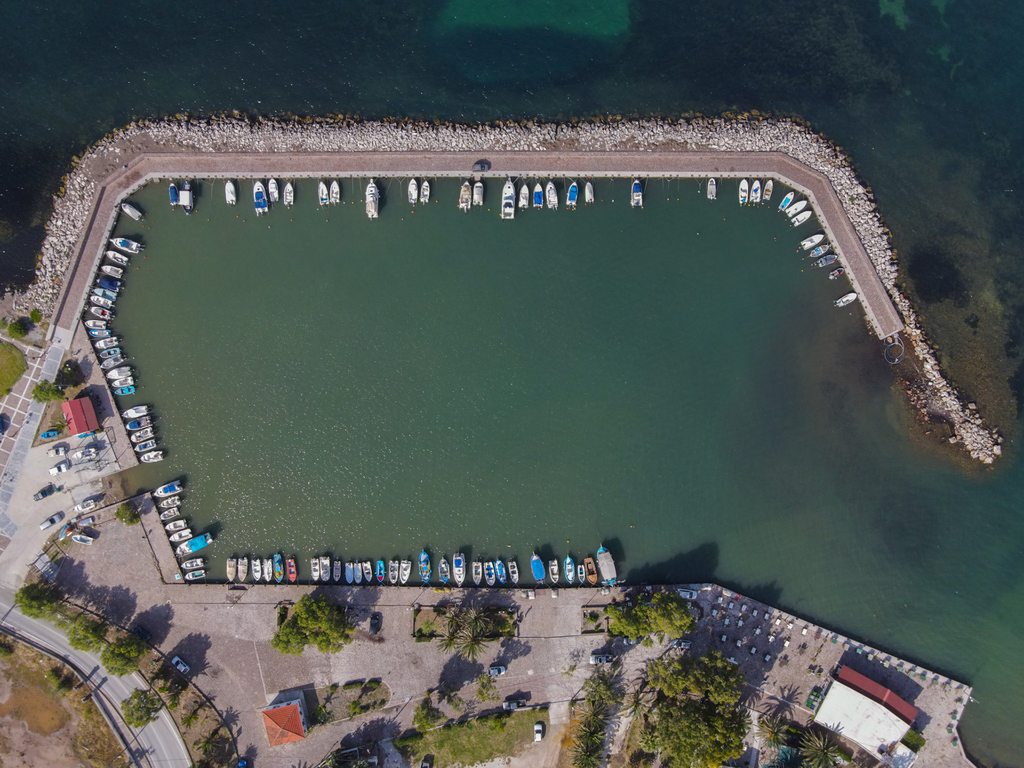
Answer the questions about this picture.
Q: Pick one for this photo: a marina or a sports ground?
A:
marina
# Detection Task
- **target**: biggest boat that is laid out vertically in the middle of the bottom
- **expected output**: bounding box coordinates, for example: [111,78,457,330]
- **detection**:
[599,545,617,588]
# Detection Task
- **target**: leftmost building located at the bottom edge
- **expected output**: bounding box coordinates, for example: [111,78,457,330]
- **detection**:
[262,698,308,746]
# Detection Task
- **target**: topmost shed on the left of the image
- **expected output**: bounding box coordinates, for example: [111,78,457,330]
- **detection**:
[62,396,103,436]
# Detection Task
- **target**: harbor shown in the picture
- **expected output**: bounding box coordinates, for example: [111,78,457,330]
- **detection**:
[47,153,980,768]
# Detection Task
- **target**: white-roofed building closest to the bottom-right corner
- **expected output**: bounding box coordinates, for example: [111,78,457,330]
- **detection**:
[809,663,919,768]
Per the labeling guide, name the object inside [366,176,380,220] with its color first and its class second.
white boat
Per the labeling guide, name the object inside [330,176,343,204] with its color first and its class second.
white boat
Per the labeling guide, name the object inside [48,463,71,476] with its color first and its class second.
white vehicle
